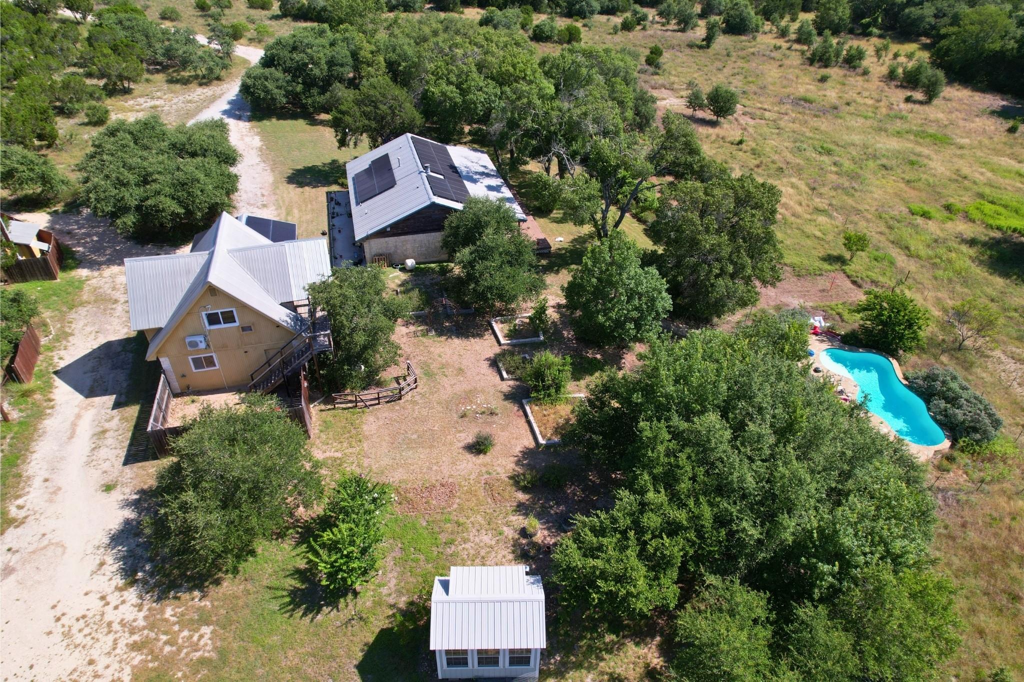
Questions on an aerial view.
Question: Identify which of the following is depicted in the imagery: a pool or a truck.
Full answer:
It is a pool that can be seen here.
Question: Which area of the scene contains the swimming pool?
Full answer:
The swimming pool is located in the right region of the scene.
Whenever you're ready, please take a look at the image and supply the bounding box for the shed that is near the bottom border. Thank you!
[429,566,546,680]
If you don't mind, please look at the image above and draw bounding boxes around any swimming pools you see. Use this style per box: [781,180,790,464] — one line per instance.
[821,348,945,445]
